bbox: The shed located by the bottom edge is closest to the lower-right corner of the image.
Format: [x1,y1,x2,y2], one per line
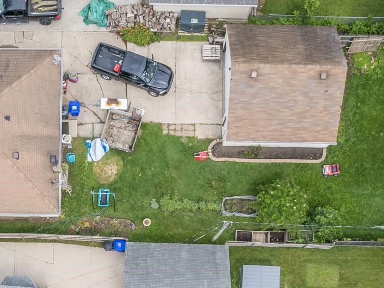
[238,265,280,288]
